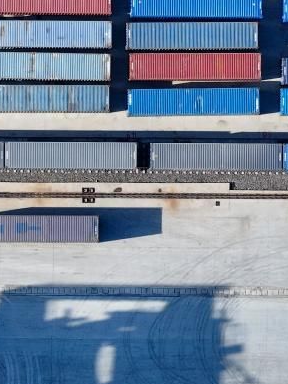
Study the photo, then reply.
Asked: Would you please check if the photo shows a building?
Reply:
No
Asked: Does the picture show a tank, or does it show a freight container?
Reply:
freight container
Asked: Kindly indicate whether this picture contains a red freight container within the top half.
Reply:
Yes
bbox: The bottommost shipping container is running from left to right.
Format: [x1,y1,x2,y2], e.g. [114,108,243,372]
[0,215,98,242]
